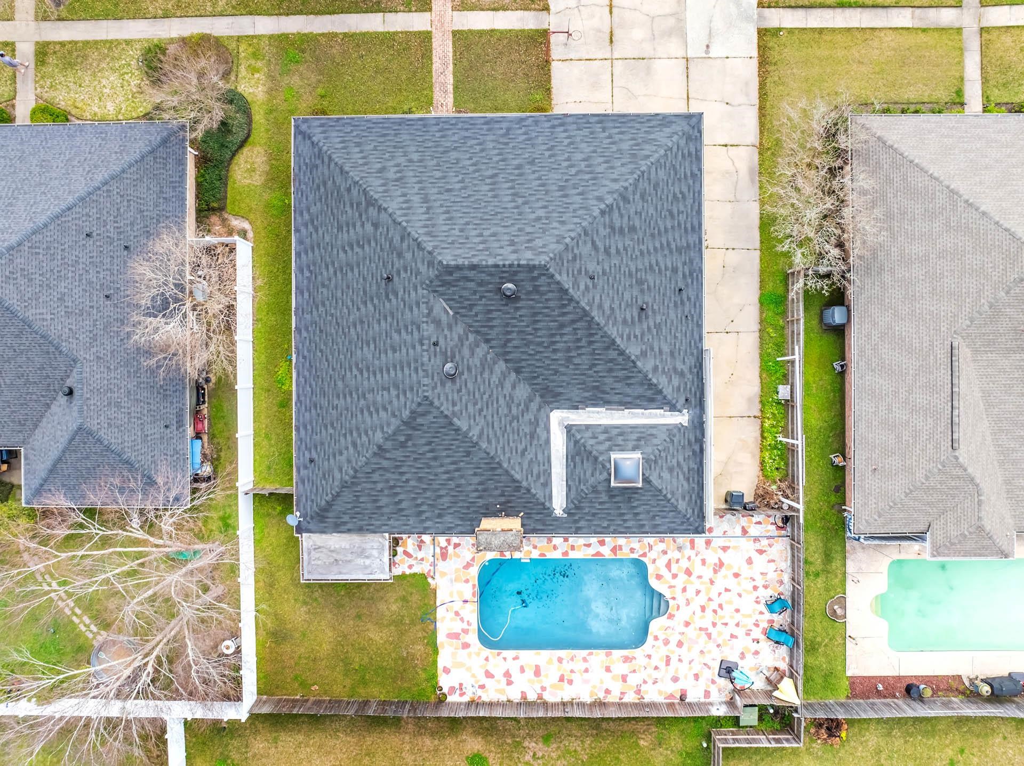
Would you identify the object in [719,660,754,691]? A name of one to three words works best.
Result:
umbrella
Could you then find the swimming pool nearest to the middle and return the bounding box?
[473,553,674,655]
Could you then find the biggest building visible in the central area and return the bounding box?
[286,112,713,583]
